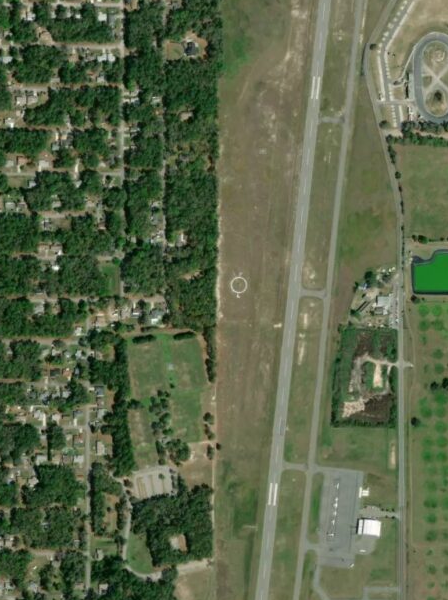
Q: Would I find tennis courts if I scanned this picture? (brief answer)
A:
No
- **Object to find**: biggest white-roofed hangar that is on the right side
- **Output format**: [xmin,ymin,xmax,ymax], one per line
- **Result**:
[358,520,382,537]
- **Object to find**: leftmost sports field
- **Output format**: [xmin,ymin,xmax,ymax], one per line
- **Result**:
[129,336,165,398]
